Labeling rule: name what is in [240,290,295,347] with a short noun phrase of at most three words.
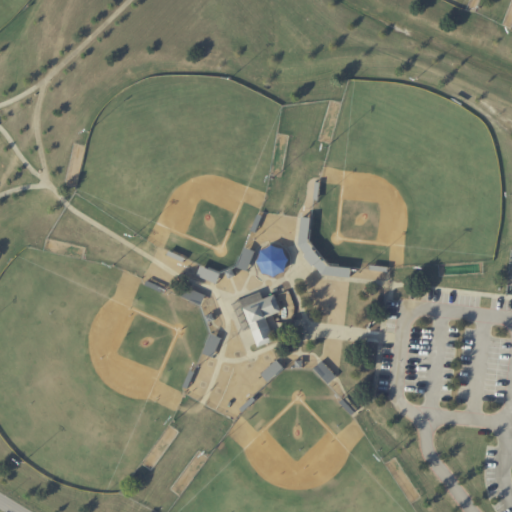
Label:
building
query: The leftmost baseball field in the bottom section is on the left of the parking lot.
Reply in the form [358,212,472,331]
[0,248,209,493]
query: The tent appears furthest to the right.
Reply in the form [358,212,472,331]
[256,244,290,278]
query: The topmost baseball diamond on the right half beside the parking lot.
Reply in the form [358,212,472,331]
[311,80,502,272]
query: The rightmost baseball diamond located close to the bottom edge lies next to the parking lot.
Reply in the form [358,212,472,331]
[166,368,415,512]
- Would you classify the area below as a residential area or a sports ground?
sports ground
